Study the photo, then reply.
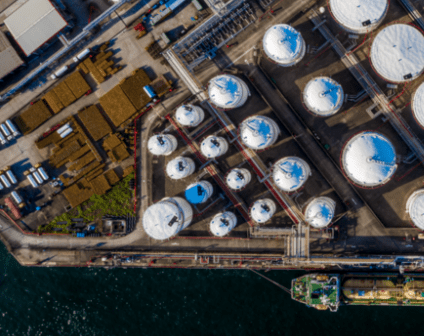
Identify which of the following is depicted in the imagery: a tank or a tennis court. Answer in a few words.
tank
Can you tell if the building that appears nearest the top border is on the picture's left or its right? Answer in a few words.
left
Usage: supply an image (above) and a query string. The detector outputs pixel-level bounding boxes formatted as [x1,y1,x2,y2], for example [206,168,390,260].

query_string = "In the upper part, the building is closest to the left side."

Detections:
[0,26,33,92]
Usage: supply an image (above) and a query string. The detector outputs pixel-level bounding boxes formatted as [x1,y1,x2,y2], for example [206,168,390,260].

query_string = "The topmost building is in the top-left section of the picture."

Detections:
[4,0,77,59]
